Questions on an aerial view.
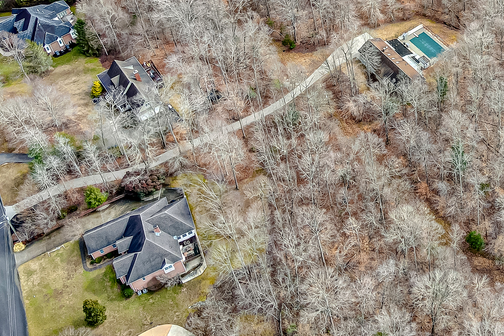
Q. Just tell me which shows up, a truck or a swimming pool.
swimming pool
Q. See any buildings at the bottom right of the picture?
No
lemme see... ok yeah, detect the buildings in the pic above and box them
[84,186,195,290]
[353,41,424,103]
[0,0,93,67]
[96,56,174,132]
